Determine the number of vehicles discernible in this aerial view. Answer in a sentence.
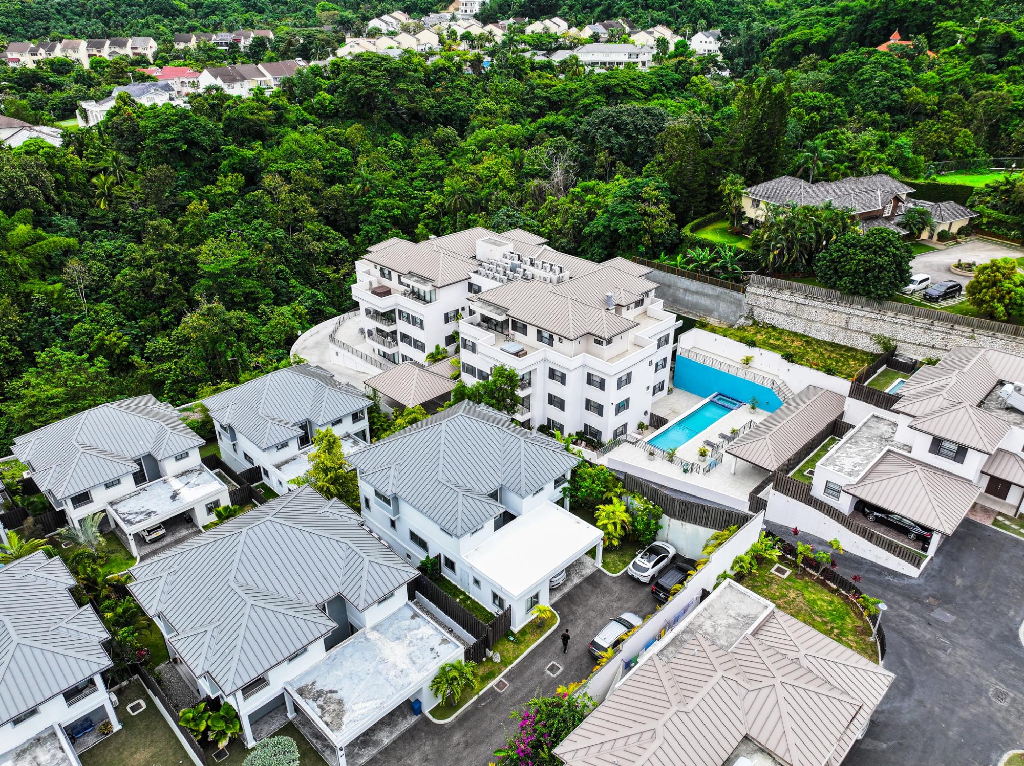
There are 8 vehicles in the image.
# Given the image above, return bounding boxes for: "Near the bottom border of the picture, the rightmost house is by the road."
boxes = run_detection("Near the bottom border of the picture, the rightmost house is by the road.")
[553,572,896,766]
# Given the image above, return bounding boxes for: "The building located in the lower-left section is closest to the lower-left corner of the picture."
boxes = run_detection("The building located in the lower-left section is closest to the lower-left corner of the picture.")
[0,550,116,766]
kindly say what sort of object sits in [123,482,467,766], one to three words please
house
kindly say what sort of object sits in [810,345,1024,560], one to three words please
house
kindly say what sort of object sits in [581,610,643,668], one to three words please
car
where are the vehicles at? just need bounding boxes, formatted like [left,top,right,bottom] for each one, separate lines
[581,610,643,668]
[859,502,937,546]
[648,550,704,597]
[903,273,938,294]
[550,568,576,597]
[621,543,679,593]
[925,277,964,302]
[140,524,177,557]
